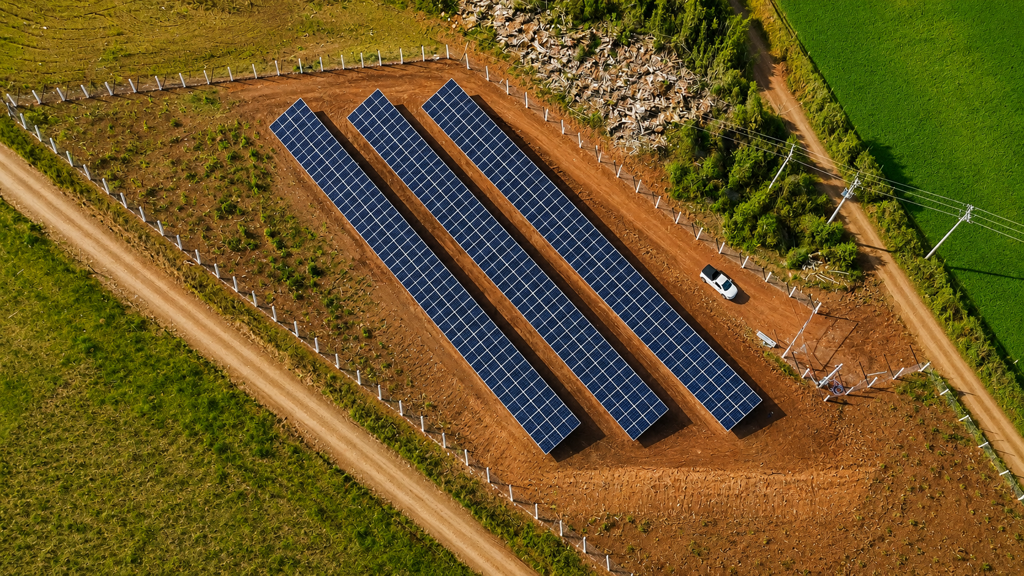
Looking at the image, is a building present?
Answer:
No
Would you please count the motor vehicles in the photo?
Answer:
1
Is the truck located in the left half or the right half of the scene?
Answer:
right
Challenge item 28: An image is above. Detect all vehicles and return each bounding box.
[698,263,739,300]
